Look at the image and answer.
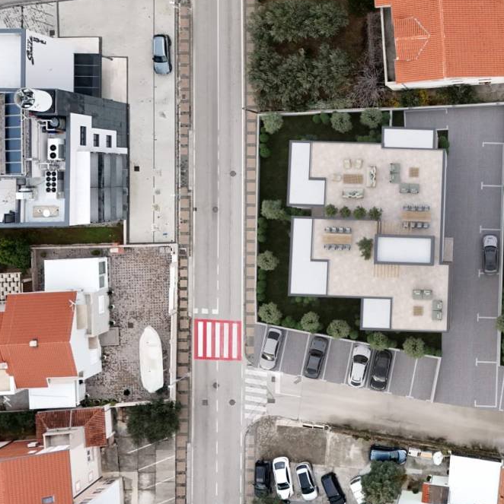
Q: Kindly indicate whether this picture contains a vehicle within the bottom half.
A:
Yes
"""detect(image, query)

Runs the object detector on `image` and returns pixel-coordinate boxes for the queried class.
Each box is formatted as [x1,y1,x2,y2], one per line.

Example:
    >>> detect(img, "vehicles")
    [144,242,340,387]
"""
[150,32,172,75]
[321,471,346,504]
[273,456,294,499]
[370,349,392,392]
[305,336,328,379]
[480,233,499,275]
[348,345,372,389]
[348,473,376,504]
[258,327,283,371]
[253,459,272,496]
[296,461,319,500]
